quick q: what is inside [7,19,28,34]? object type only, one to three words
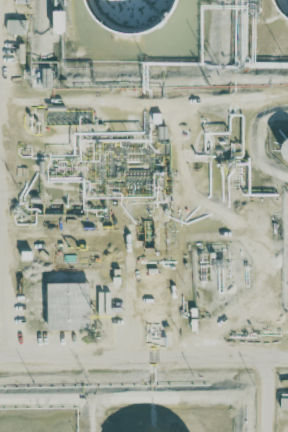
shed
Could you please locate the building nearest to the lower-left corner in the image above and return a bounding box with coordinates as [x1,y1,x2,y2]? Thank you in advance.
[48,282,90,330]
